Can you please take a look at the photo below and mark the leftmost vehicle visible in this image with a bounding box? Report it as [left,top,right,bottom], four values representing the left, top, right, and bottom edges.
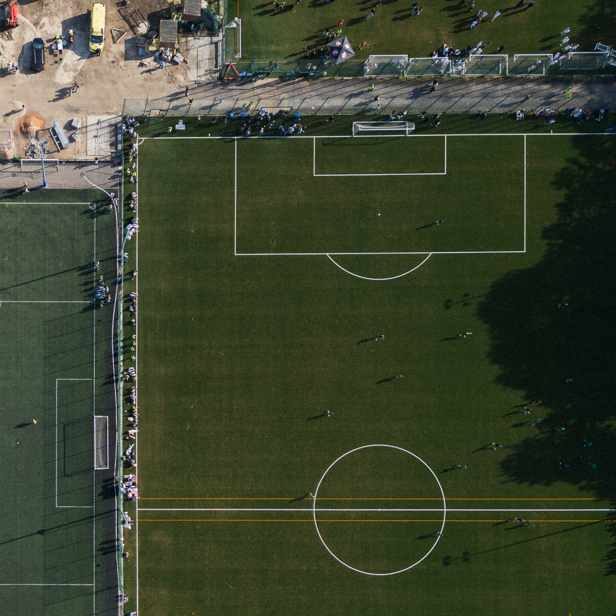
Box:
[4,0,21,27]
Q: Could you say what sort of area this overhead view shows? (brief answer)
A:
sports ground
